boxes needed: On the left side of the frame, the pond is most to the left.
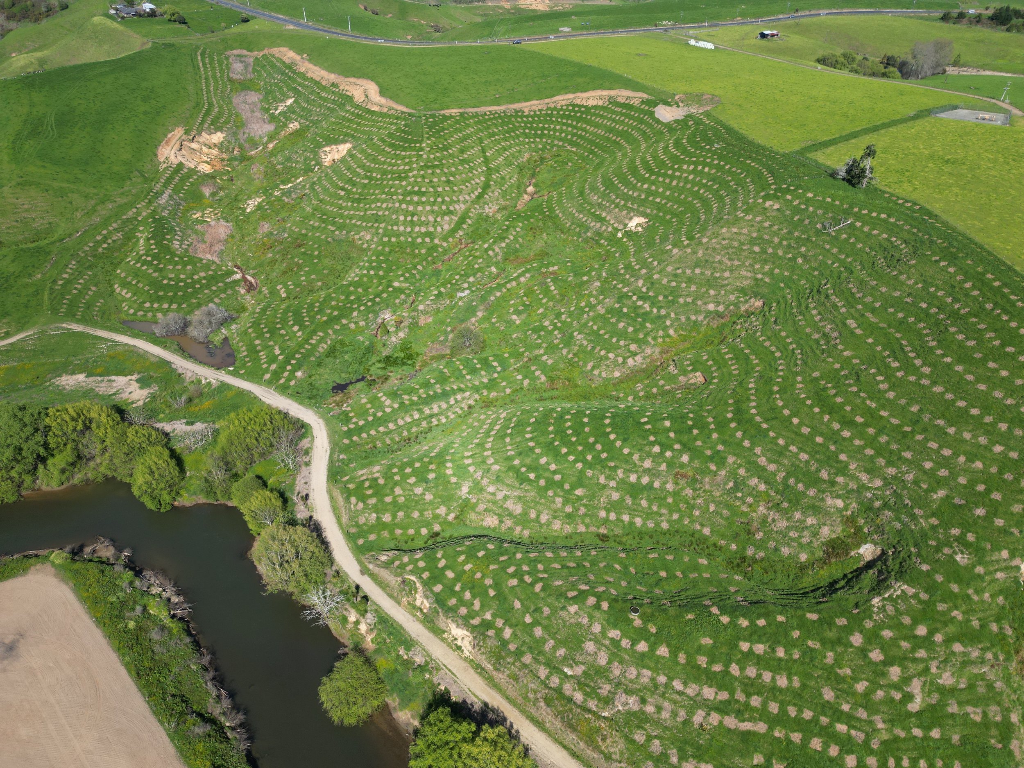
[123,319,236,369]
